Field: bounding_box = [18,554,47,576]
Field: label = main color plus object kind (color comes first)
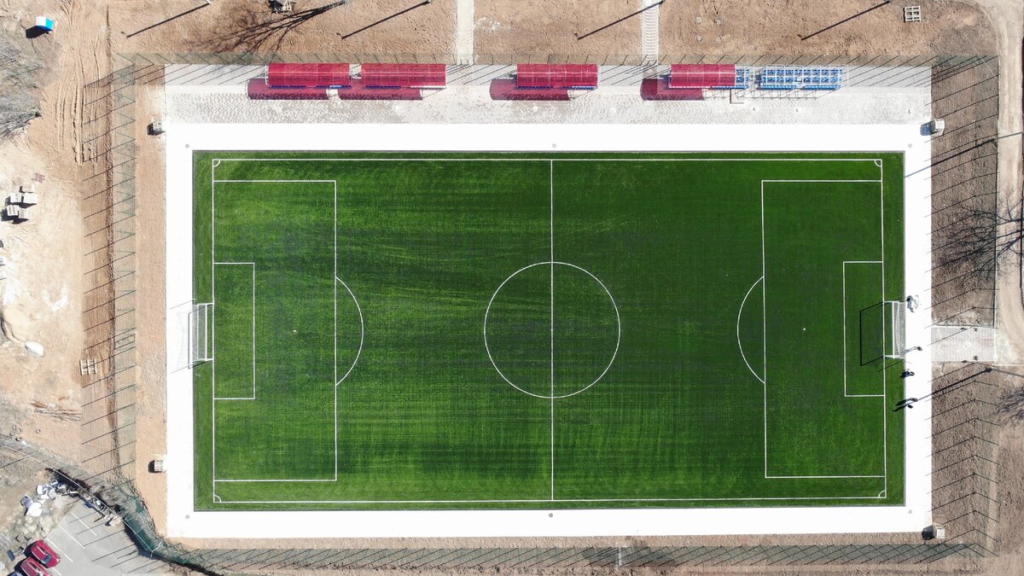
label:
red car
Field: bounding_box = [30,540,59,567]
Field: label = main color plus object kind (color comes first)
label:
red car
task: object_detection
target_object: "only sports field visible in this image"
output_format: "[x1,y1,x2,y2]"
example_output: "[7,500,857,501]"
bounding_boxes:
[193,151,906,512]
